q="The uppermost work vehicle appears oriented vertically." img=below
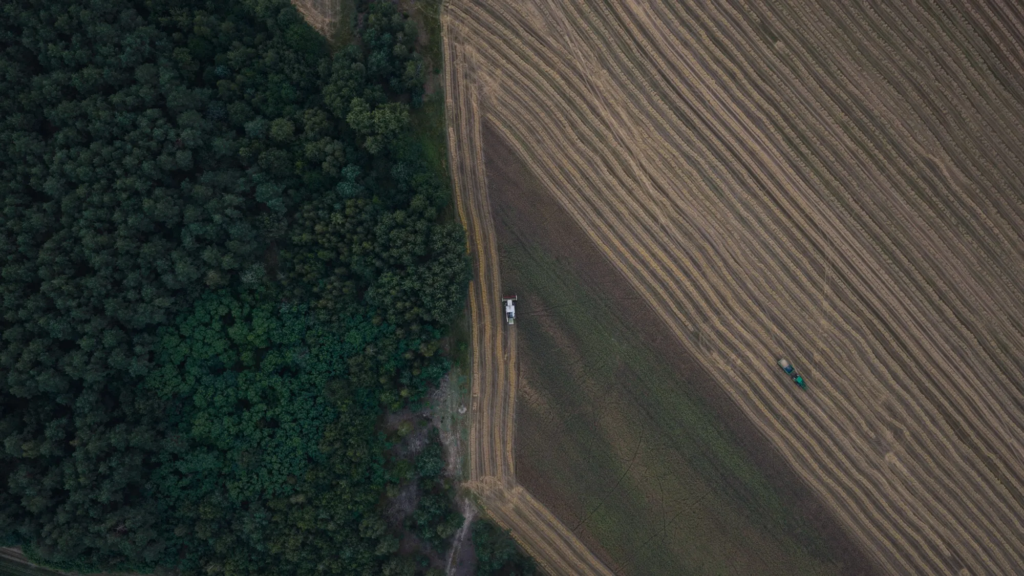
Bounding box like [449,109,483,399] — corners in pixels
[502,295,518,326]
